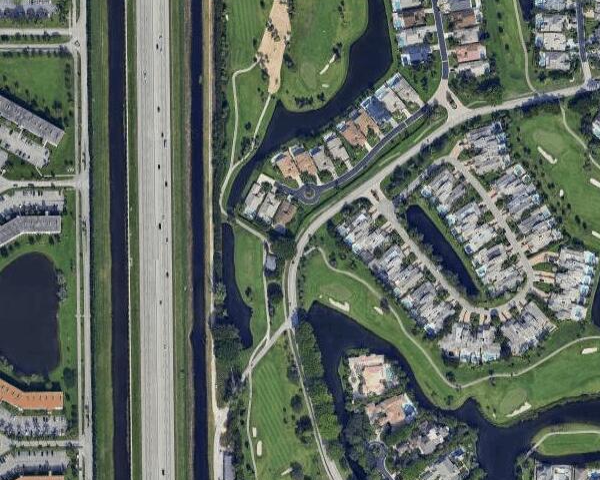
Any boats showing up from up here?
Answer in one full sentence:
No, there is no boat in the image.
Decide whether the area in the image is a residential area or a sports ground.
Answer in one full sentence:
This looks like a residential area.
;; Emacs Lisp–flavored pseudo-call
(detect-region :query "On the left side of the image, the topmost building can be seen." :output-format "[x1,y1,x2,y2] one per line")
[0,94,64,145]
